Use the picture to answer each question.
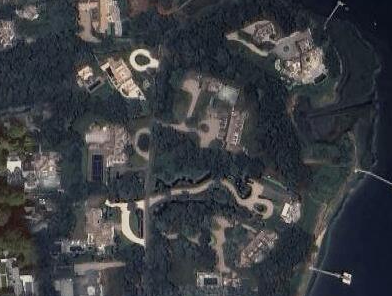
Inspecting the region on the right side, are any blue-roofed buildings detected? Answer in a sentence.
No, the scene shows no blue-roofed building on the right side.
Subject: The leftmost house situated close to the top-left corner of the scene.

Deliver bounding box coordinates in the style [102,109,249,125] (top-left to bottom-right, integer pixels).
[0,19,16,47]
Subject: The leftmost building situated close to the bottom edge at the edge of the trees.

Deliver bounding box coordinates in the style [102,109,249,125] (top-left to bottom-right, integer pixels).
[3,258,24,296]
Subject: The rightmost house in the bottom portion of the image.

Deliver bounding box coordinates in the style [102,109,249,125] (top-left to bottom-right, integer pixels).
[281,198,303,226]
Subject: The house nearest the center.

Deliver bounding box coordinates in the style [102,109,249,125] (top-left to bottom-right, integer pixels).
[213,106,245,151]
